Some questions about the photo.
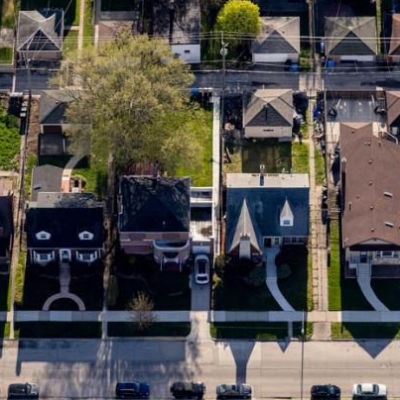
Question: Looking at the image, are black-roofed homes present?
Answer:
Yes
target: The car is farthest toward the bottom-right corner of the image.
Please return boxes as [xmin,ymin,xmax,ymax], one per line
[354,383,387,399]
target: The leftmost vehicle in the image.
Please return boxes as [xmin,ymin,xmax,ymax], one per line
[6,382,40,398]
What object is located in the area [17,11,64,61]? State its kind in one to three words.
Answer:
building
